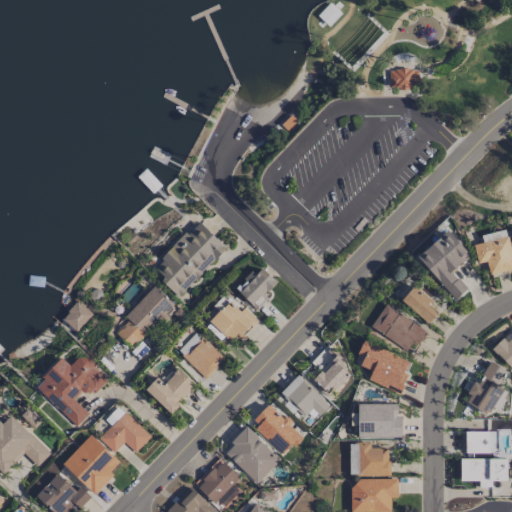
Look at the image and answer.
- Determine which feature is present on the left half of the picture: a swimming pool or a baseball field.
swimming pool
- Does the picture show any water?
Yes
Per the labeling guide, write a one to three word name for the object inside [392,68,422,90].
building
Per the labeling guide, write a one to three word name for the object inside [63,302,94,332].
house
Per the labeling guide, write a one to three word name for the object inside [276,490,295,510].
swimming pool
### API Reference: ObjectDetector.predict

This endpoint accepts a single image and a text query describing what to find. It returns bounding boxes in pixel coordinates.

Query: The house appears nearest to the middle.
[241,268,279,306]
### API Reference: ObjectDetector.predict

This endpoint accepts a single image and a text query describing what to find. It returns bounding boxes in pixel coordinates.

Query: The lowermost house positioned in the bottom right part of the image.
[353,480,400,512]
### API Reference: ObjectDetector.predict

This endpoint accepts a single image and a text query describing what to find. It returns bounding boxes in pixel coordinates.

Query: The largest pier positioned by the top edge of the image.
[192,4,239,83]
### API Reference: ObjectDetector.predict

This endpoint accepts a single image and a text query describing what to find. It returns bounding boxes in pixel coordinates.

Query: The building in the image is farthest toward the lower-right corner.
[462,458,510,488]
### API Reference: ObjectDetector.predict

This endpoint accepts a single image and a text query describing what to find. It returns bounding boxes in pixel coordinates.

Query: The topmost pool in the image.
[121,283,140,304]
